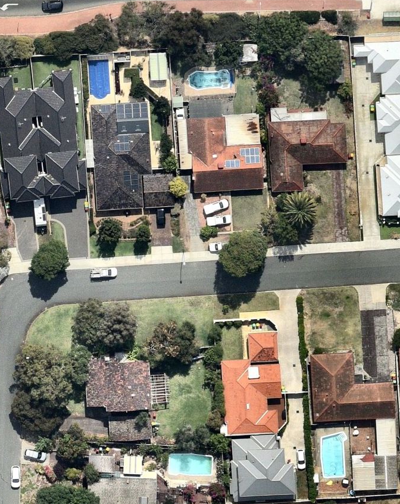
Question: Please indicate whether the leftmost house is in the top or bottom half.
top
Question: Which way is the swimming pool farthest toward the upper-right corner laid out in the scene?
horizontally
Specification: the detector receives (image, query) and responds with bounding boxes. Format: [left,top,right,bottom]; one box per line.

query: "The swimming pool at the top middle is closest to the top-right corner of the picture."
[189,69,234,91]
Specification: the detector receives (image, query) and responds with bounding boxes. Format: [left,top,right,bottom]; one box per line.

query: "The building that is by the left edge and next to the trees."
[0,70,87,203]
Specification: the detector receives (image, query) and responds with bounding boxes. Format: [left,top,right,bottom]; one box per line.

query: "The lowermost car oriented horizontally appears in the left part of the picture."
[23,449,46,462]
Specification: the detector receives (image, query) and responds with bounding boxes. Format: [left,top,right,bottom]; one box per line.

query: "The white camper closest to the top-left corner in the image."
[35,200,47,232]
